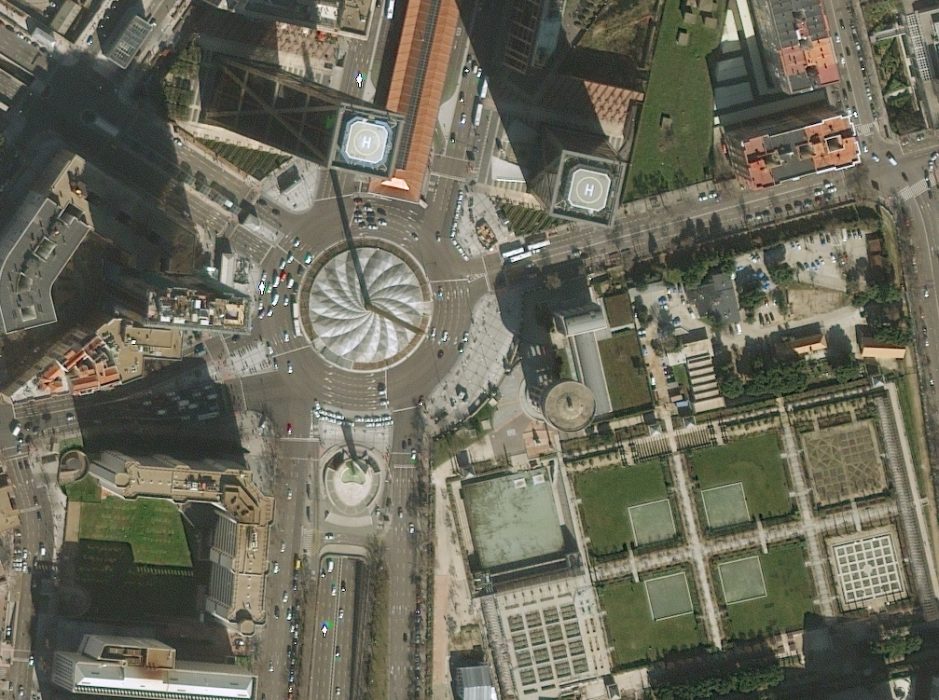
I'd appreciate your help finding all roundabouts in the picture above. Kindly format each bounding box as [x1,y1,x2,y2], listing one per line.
[298,236,435,372]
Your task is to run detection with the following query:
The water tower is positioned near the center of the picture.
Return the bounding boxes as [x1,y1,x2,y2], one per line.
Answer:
[517,367,596,432]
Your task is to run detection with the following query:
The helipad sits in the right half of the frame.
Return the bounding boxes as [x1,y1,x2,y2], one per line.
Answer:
[567,163,613,211]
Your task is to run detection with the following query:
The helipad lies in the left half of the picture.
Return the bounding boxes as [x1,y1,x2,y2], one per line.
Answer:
[343,116,390,162]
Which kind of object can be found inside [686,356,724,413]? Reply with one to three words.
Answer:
shed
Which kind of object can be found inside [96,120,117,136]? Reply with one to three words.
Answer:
vehicle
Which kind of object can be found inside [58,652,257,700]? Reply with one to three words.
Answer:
building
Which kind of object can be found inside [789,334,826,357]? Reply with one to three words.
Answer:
house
